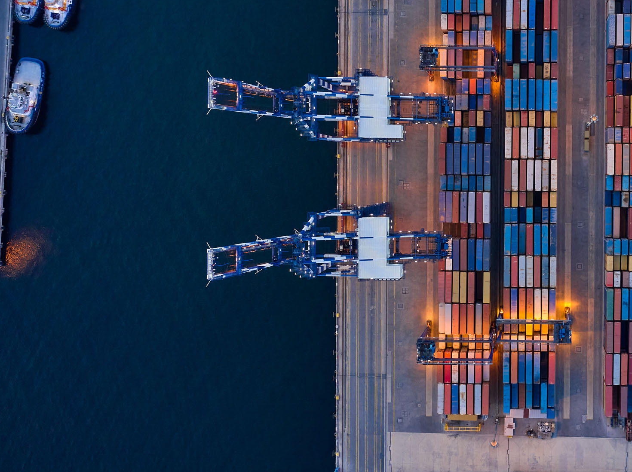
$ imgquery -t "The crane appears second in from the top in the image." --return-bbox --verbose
[206,63,456,151]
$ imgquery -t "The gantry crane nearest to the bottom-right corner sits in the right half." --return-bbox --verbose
[496,303,573,348]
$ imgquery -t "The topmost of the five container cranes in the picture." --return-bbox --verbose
[420,42,499,82]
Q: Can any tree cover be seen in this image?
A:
No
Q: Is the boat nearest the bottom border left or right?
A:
left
